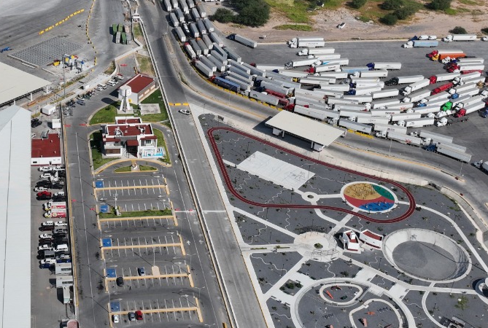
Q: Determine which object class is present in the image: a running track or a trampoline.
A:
running track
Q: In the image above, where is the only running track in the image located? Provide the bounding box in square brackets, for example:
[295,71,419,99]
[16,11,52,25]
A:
[205,125,416,223]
